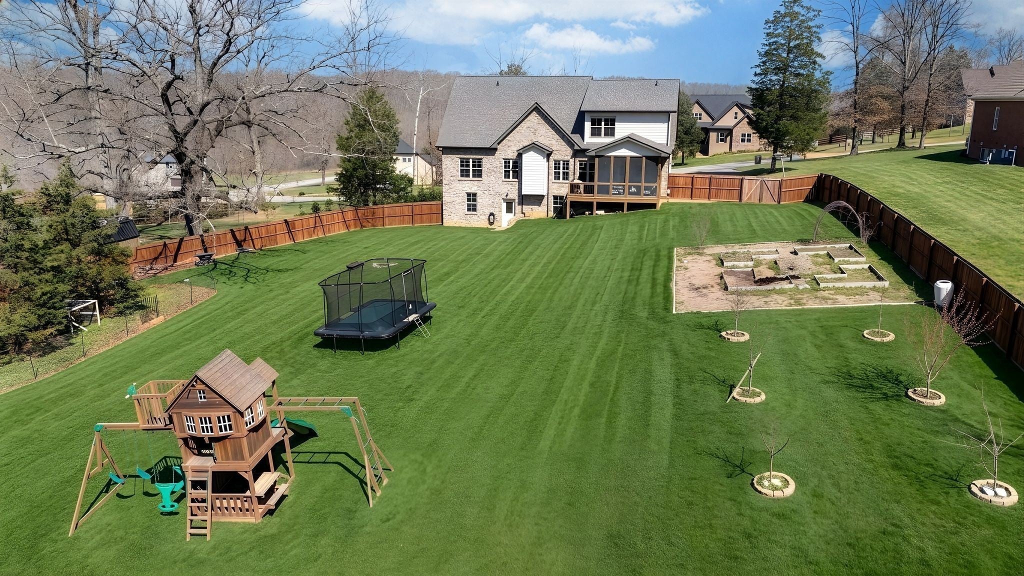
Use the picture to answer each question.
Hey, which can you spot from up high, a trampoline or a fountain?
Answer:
trampoline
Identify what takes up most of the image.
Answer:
grass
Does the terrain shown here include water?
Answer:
No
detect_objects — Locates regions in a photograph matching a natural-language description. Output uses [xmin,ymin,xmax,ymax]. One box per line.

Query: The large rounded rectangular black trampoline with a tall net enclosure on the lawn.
[321,260,434,355]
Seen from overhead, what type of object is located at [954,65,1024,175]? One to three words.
house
